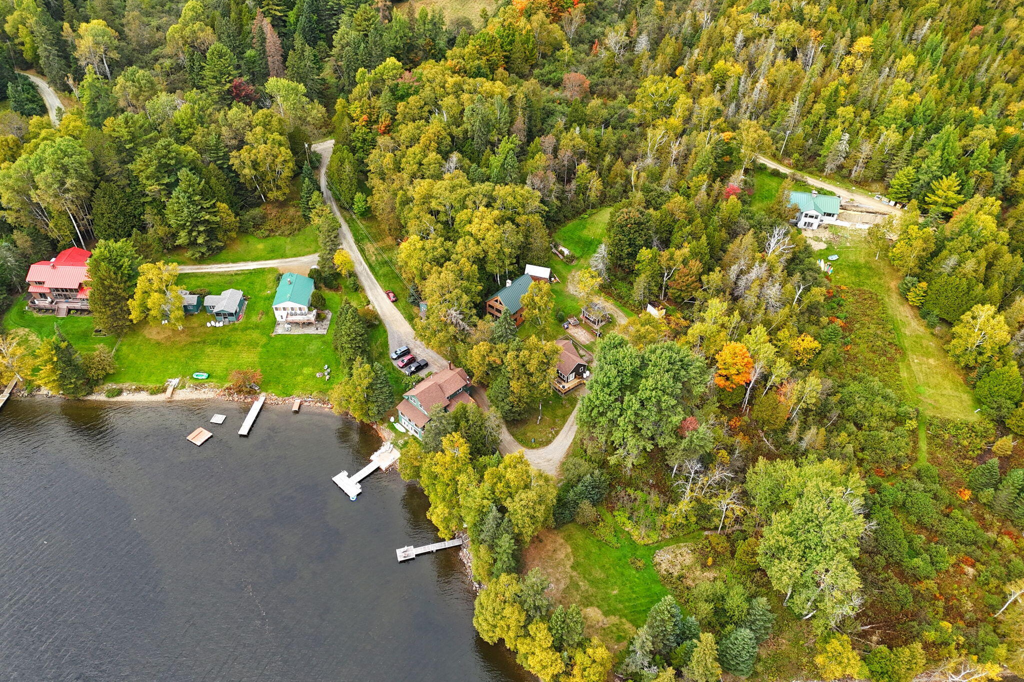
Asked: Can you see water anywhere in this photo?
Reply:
Yes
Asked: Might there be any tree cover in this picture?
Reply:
Yes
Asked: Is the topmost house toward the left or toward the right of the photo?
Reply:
right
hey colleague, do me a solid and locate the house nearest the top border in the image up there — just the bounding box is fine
[788,190,840,227]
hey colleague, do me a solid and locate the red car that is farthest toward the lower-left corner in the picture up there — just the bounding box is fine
[396,353,416,368]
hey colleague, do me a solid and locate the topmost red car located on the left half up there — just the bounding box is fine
[385,289,397,302]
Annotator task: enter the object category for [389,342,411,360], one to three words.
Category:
car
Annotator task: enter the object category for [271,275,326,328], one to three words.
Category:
house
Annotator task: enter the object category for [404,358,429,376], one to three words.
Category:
vehicle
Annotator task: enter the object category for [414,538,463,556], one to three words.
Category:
pier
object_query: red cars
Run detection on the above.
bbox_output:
[396,353,416,368]
[385,289,397,302]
